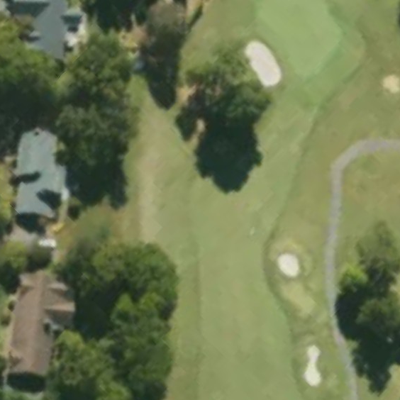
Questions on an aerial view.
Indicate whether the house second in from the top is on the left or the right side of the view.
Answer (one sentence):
The house second in from the top appears in the left half of the scene.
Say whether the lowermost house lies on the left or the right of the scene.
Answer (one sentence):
You can find the lowermost house on the left side of the picture.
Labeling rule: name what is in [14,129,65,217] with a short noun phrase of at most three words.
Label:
house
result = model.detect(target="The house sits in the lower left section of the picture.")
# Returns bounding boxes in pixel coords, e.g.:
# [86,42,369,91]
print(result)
[10,268,72,376]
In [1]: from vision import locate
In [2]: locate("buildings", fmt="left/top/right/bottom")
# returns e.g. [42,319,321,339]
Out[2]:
[10,268,72,376]
[6,0,81,55]
[14,129,65,217]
